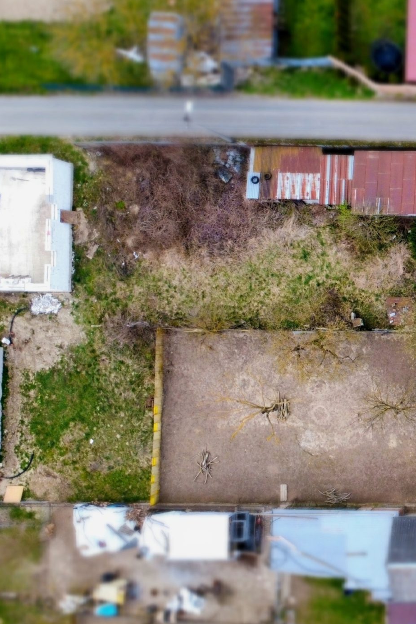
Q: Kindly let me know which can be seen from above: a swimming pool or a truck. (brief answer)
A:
truck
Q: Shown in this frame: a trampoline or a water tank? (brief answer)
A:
water tank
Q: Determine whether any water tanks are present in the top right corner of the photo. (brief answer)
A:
Yes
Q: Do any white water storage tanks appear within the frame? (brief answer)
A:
No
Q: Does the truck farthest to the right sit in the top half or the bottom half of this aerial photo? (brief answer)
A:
bottom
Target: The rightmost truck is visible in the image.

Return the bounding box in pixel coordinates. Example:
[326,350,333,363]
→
[232,512,264,547]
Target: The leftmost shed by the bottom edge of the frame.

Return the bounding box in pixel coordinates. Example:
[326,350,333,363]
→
[271,508,398,597]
